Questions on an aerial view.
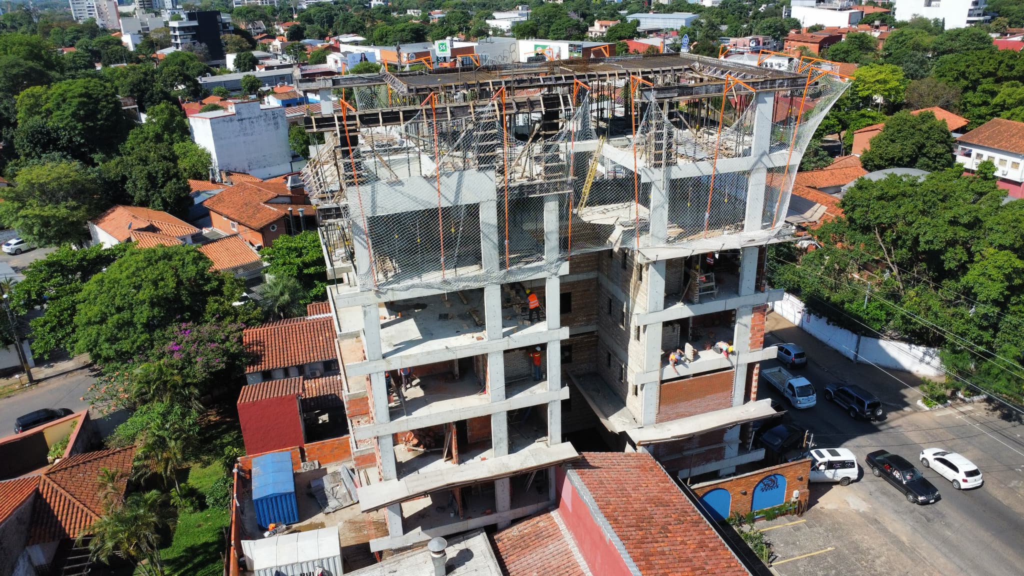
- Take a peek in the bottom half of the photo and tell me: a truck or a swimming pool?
truck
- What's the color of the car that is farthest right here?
white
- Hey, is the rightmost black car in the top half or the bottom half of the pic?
bottom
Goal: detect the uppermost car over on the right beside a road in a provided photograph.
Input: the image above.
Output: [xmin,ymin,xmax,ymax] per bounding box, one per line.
[773,341,810,369]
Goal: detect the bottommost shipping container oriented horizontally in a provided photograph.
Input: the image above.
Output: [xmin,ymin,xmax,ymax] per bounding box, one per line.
[234,523,347,576]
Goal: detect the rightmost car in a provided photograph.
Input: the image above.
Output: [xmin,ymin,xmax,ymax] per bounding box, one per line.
[921,449,991,493]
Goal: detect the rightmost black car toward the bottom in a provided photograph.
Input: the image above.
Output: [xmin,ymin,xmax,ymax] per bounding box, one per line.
[867,454,946,509]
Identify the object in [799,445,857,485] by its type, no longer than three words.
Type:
van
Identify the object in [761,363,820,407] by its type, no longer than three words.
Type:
truck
